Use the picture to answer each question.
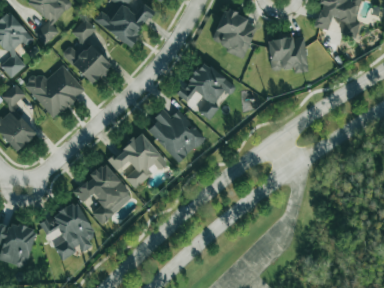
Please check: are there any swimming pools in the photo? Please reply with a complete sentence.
Yes, looking at the shot, I can spot a swimming pool.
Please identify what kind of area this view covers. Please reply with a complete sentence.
This image shows a residential area.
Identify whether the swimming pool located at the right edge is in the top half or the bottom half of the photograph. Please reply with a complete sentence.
The swimming pool located at the right edge sits in the top half of the picture.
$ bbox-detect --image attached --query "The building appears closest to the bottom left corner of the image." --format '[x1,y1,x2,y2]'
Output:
[0,226,38,264]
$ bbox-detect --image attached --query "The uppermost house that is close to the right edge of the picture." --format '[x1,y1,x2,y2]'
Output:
[314,0,365,38]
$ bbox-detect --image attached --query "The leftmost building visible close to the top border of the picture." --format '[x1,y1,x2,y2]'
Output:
[0,12,32,75]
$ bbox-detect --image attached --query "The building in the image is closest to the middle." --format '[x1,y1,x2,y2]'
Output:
[146,106,204,164]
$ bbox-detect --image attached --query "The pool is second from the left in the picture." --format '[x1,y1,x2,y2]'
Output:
[146,165,171,191]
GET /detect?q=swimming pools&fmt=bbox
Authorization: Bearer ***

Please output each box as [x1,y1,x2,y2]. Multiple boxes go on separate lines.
[112,199,138,225]
[146,165,171,191]
[358,0,381,24]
